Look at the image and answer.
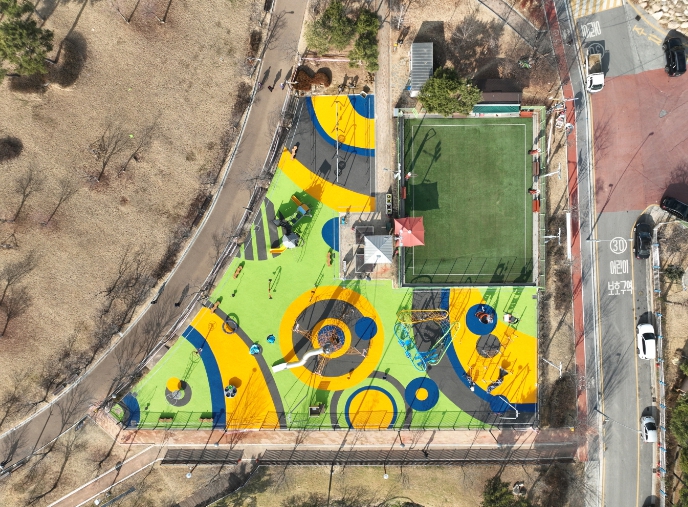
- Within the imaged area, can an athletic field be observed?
Yes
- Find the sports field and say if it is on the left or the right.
right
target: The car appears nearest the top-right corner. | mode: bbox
[666,36,688,77]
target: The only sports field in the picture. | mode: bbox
[398,111,540,284]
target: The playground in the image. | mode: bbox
[108,95,539,431]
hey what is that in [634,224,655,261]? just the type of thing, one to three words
car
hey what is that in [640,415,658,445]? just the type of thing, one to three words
car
